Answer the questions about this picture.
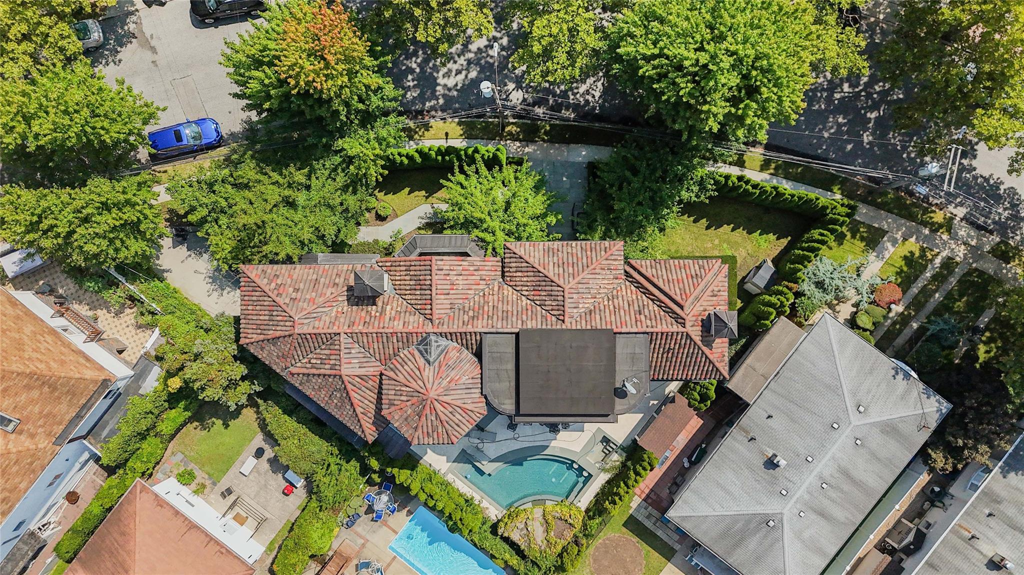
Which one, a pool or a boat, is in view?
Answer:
pool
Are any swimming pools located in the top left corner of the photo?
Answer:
No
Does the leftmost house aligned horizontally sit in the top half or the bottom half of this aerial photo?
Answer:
bottom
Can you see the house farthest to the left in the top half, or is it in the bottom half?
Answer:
bottom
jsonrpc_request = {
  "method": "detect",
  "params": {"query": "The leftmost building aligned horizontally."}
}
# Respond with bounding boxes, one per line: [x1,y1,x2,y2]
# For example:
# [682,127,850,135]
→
[59,477,279,575]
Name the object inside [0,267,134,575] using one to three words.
house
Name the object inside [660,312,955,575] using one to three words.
house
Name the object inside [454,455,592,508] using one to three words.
swimming pool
